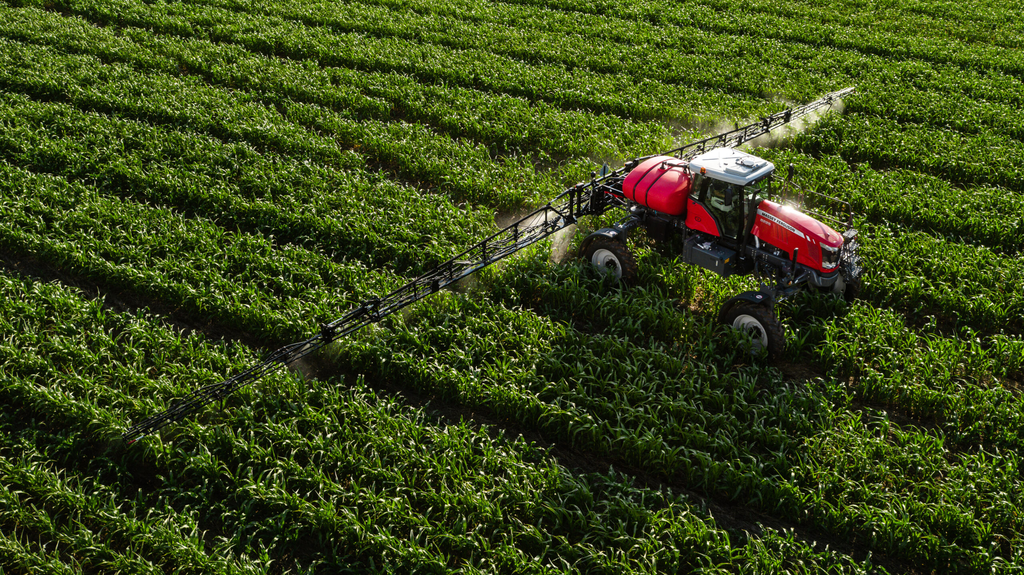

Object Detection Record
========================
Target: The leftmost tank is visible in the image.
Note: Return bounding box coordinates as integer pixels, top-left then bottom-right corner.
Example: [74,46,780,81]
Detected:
[619,146,704,210]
